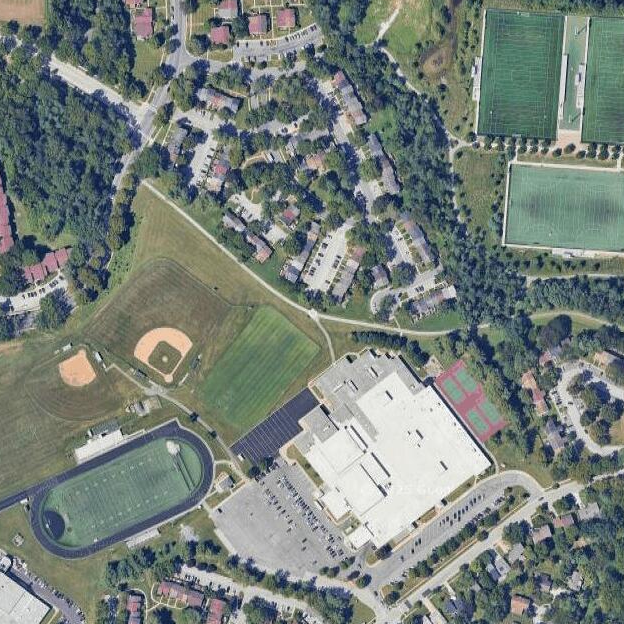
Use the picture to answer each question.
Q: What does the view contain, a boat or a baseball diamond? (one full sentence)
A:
The one in the frame is a baseball diamond.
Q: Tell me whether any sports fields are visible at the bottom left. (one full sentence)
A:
Yes, a sports field can be seen at the bottom left.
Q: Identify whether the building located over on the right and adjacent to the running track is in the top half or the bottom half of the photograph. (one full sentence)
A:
Seen from above, the building located over on the right and adjacent to the running track lies in the bottom half of the view.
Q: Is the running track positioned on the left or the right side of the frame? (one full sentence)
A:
The running track sits on the left side.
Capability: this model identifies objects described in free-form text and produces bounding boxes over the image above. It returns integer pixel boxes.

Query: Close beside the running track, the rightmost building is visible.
[293,348,489,549]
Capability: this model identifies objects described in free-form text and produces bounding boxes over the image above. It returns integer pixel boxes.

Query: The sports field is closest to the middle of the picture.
[200,305,320,426]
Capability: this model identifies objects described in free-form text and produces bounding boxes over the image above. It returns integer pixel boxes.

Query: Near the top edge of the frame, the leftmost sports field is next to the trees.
[478,11,563,141]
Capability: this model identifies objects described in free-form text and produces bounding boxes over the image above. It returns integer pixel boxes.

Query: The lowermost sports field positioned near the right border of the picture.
[504,166,624,251]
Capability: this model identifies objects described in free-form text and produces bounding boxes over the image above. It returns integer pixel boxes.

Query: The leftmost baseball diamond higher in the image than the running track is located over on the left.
[59,350,95,387]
